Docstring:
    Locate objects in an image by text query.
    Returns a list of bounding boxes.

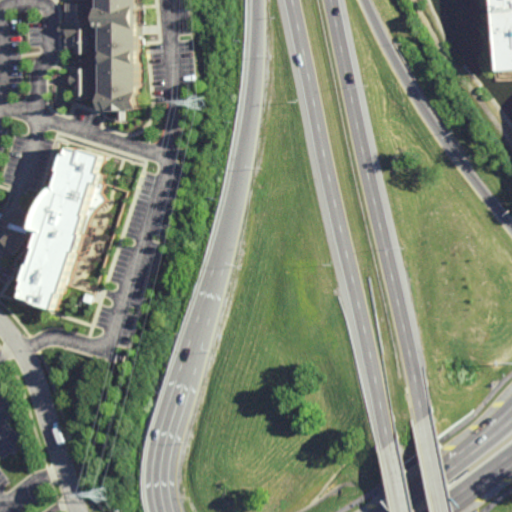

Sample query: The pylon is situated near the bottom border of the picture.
[66,486,110,504]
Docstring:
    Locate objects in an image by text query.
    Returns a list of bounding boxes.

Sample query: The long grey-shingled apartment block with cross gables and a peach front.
[87,0,148,122]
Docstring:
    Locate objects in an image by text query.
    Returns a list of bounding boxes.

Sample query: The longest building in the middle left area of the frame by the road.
[7,148,108,310]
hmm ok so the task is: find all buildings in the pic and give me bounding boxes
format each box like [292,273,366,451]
[7,148,108,310]
[486,0,512,85]
[87,0,148,122]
